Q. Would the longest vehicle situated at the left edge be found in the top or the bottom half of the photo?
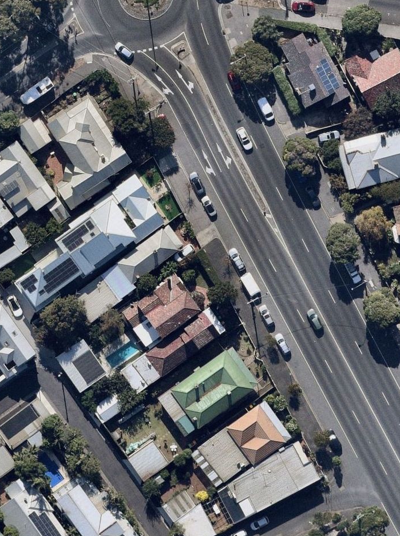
top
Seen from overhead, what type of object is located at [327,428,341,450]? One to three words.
vehicle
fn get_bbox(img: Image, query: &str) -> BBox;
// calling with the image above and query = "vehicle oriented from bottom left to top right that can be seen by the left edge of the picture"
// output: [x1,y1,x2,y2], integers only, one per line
[19,77,57,106]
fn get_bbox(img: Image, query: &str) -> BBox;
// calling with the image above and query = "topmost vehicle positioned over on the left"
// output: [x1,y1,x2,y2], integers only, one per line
[114,43,134,61]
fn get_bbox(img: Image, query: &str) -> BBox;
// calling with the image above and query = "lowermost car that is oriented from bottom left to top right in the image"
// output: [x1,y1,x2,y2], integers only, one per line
[249,515,269,532]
